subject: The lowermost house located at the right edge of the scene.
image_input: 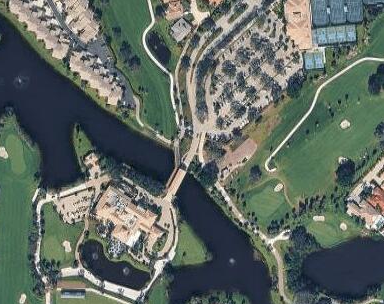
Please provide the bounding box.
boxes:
[348,201,383,229]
